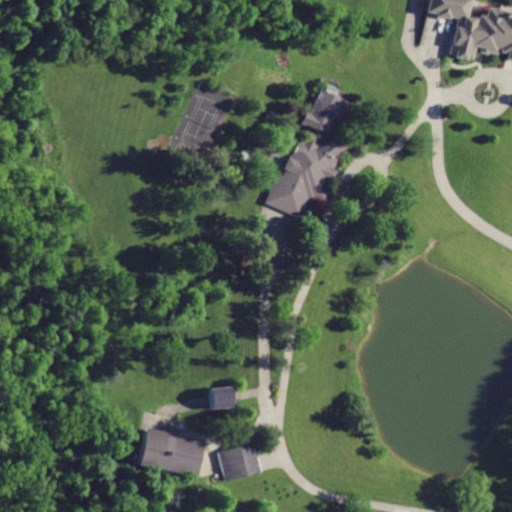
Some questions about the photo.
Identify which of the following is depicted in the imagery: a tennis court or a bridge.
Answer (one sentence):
The image shows a tennis court.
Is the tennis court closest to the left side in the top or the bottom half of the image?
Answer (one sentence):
Seen from above, the tennis court closest to the left side lies in the top half of the view.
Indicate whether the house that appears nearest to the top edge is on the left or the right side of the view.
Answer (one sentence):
The house that appears nearest to the top edge appears in the right half of the scene.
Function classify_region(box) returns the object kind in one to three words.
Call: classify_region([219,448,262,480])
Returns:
building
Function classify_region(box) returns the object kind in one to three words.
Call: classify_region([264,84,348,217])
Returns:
house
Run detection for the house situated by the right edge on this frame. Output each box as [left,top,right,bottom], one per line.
[430,0,512,62]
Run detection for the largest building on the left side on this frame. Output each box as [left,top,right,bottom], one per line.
[142,429,206,475]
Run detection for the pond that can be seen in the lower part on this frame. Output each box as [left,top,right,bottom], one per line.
[358,255,512,480]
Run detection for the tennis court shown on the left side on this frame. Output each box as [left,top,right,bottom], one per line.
[170,91,236,150]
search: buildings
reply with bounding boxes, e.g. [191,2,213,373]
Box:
[142,429,206,475]
[208,386,234,410]
[219,448,262,480]
[264,84,348,217]
[430,0,512,62]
